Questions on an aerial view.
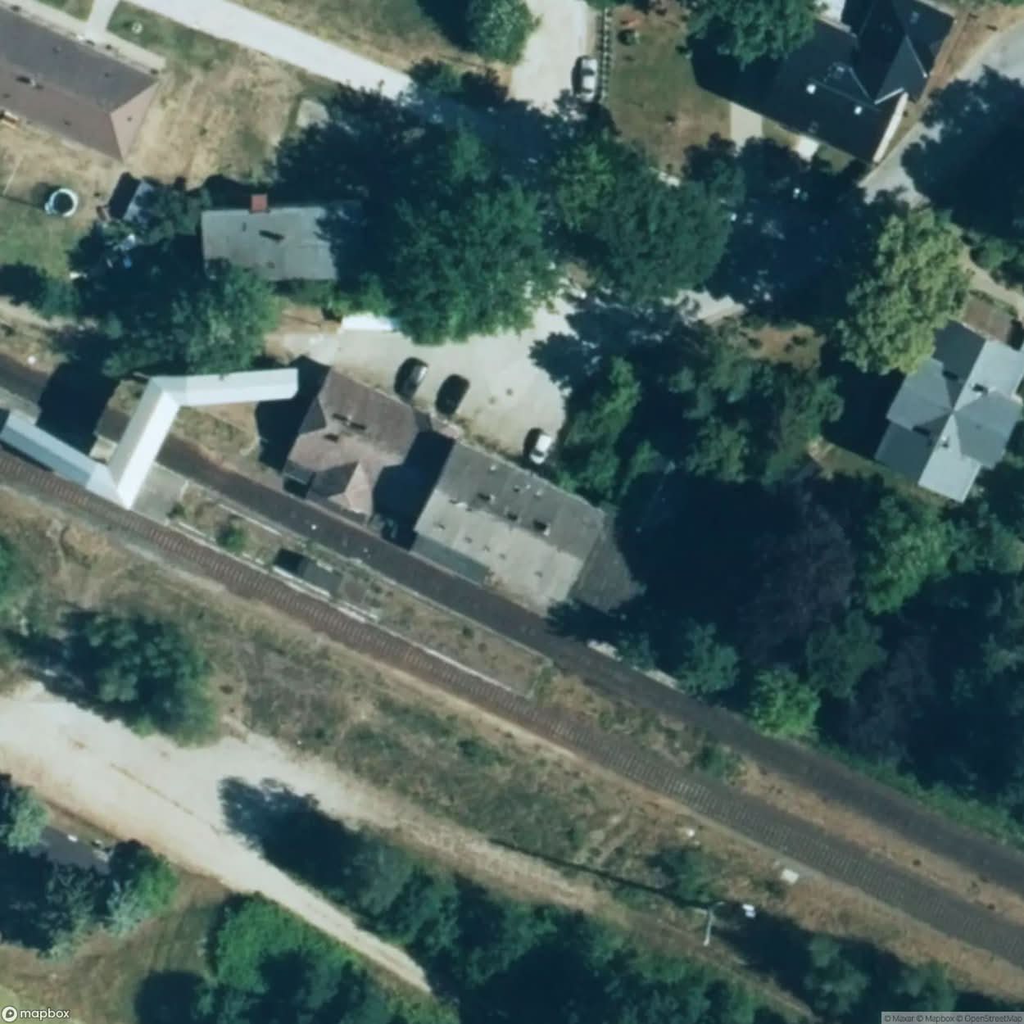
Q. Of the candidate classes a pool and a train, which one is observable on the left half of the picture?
pool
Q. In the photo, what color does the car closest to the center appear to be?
white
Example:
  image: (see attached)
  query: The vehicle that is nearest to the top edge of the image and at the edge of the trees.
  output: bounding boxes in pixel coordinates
[578,57,597,100]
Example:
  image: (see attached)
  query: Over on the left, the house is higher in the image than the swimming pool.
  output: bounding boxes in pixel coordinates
[0,4,159,160]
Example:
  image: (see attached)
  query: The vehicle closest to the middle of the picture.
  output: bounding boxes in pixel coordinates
[529,428,555,466]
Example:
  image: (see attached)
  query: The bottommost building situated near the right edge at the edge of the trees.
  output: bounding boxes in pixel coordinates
[873,324,1024,500]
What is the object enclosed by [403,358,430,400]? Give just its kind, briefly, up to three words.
car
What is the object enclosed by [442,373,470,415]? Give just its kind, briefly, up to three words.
car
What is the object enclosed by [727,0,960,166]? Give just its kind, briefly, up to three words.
house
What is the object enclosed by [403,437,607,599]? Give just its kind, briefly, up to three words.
shed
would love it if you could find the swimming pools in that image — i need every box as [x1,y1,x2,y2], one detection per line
[46,186,78,218]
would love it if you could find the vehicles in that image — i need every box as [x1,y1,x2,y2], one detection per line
[403,358,430,400]
[442,373,470,415]
[529,428,555,466]
[578,57,597,100]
